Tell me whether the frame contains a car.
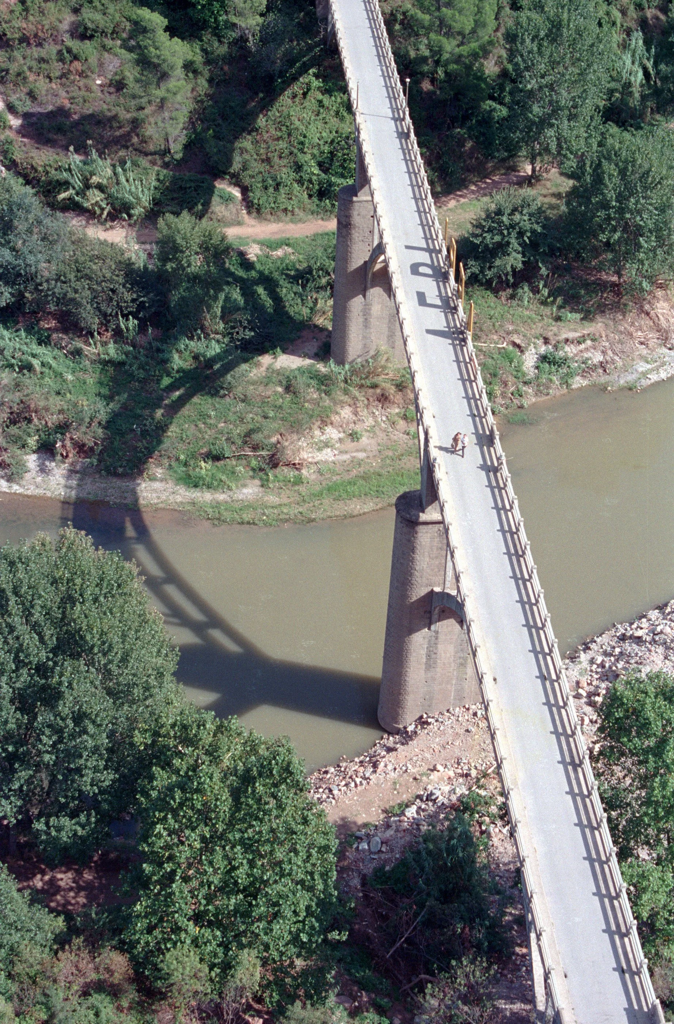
No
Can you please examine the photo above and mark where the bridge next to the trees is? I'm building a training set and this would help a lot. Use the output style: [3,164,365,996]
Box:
[300,0,668,1024]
